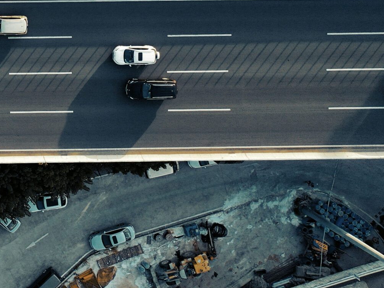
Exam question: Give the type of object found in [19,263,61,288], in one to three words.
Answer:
vehicle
